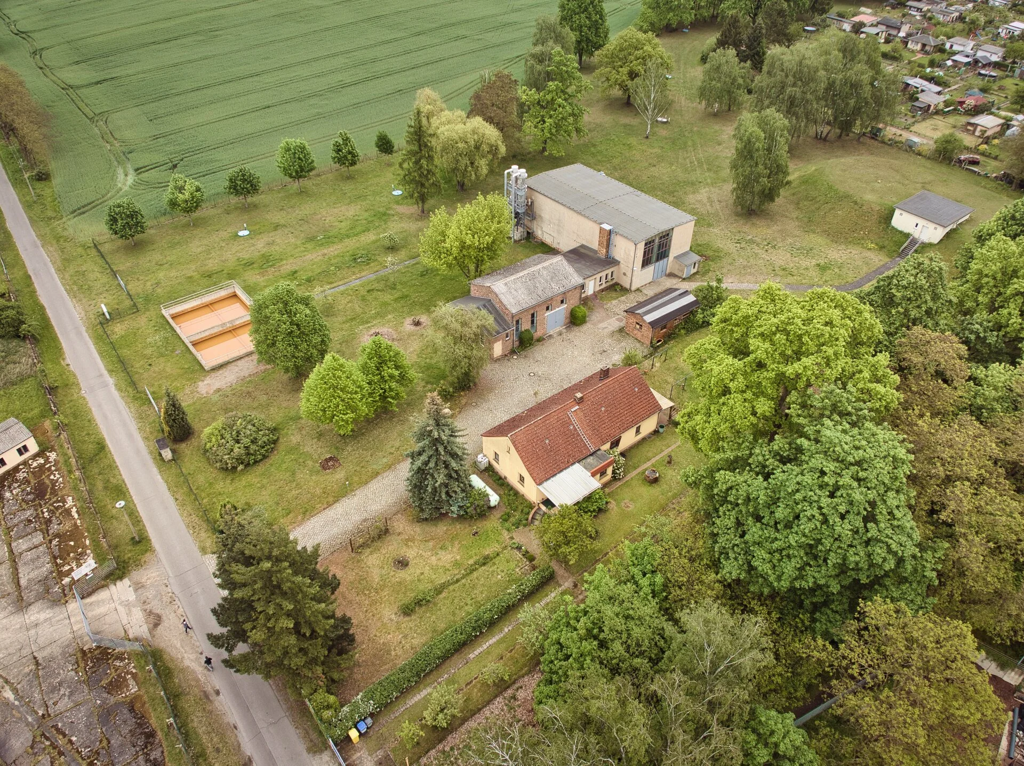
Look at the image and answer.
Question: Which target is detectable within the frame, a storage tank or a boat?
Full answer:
There is a storage tank in the scene.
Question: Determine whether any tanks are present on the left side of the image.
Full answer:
Yes, a tank appears on the left side of the image.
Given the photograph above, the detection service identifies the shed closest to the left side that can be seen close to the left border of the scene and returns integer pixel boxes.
[0,407,40,469]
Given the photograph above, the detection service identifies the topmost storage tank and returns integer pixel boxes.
[161,279,261,371]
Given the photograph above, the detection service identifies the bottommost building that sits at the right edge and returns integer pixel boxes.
[891,191,977,246]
